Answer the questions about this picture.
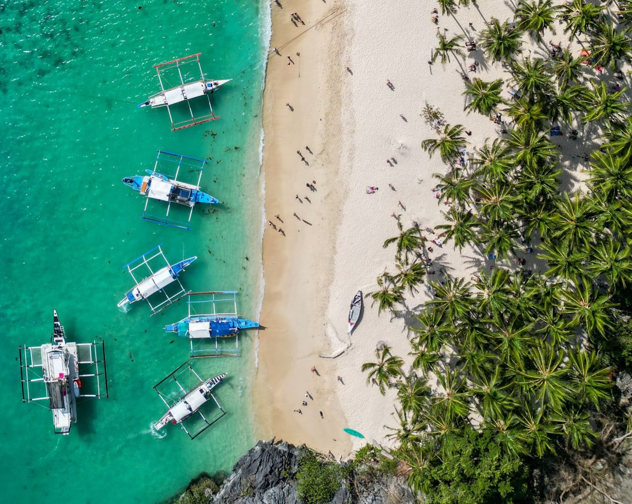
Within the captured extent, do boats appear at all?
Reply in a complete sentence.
Yes, the frame does contain a boat.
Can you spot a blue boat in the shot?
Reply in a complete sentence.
Yes, the picture does show a blue boat.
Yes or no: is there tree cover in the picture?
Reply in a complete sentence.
Yes, tree cover shows up in the scene.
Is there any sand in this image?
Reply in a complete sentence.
Yes, there's sand in this view.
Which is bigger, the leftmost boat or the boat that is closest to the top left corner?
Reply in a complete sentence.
Compared with the boat that is closest to the top left corner, the leftmost boat is the bigger one.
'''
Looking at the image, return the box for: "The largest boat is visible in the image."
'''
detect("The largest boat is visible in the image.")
[19,306,109,436]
